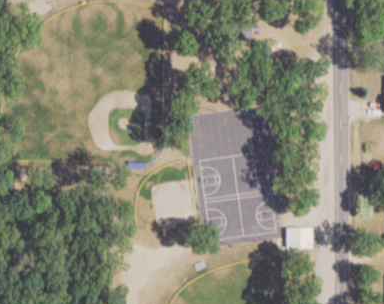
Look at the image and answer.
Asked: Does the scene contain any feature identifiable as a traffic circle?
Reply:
No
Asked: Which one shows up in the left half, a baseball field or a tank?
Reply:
baseball field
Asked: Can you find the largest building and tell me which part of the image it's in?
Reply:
bottom right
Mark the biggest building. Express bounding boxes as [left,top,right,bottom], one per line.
[286,228,314,250]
